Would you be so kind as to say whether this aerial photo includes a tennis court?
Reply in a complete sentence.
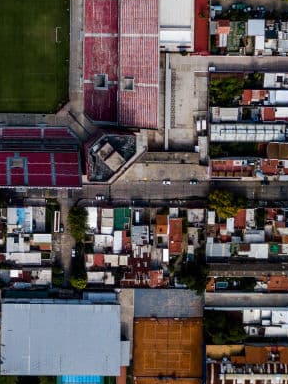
Yes, there's a tennis court here.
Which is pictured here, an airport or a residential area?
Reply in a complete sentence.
This image shows a residential area.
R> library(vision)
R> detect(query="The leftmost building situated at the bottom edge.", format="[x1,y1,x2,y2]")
[0,294,120,375]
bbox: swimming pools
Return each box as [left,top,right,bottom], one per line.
[216,281,228,288]
[63,376,100,384]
